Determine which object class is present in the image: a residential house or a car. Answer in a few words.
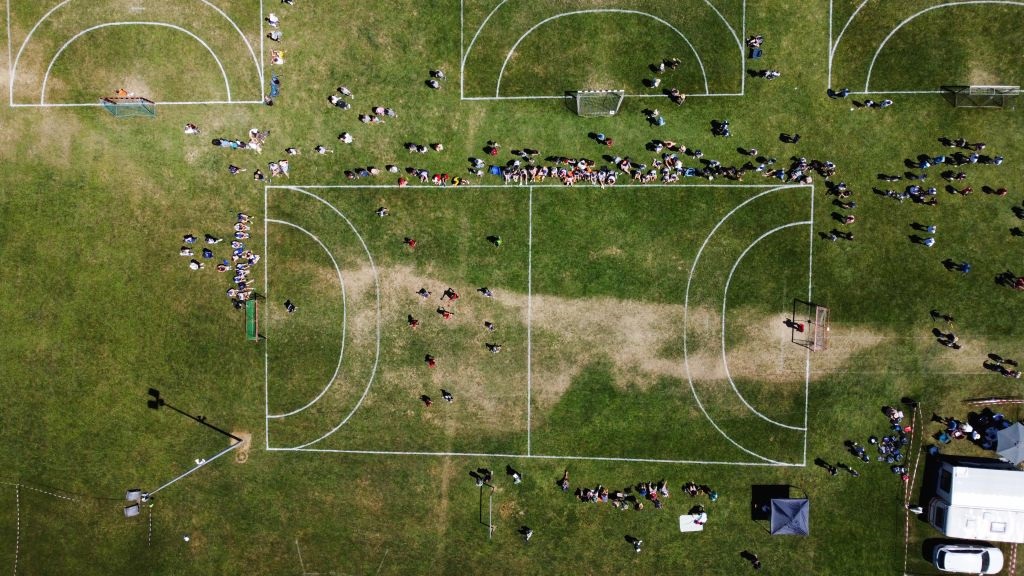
car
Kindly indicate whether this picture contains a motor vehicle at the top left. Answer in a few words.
No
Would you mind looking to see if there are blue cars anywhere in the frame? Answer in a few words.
No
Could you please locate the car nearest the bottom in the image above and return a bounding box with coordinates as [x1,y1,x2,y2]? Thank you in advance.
[935,540,1003,575]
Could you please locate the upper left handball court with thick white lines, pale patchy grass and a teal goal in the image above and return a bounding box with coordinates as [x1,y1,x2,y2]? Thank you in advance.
[6,0,264,106]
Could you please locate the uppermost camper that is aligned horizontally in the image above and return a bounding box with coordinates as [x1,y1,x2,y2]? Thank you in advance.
[933,461,1024,507]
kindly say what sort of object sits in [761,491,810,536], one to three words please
tent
